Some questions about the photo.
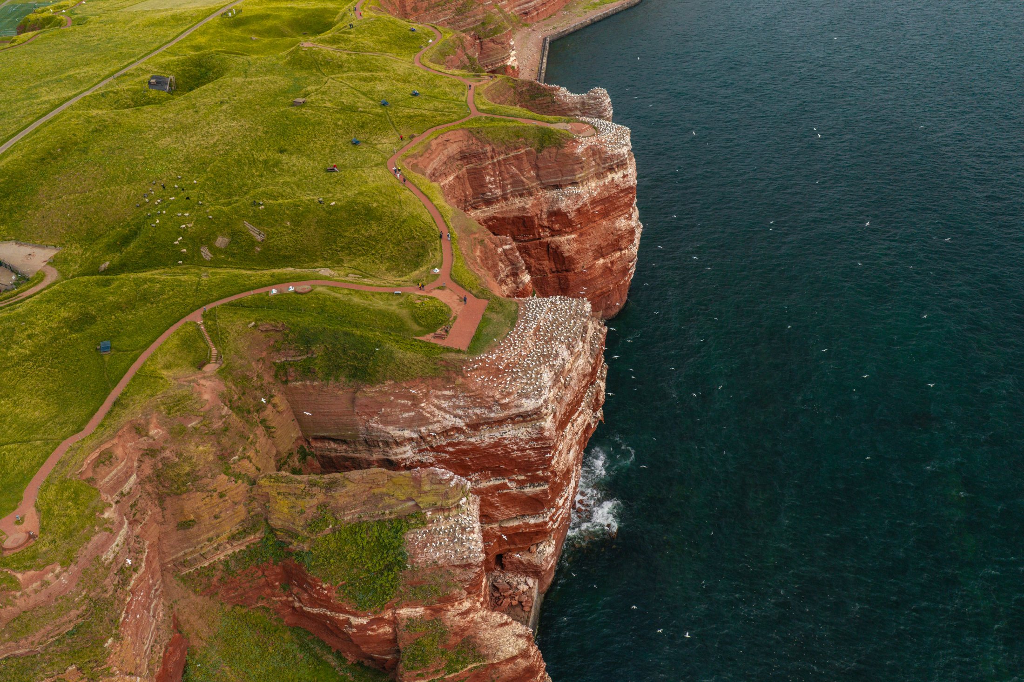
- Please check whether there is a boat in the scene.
No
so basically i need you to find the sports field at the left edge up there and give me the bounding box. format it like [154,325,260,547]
[0,1,62,37]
